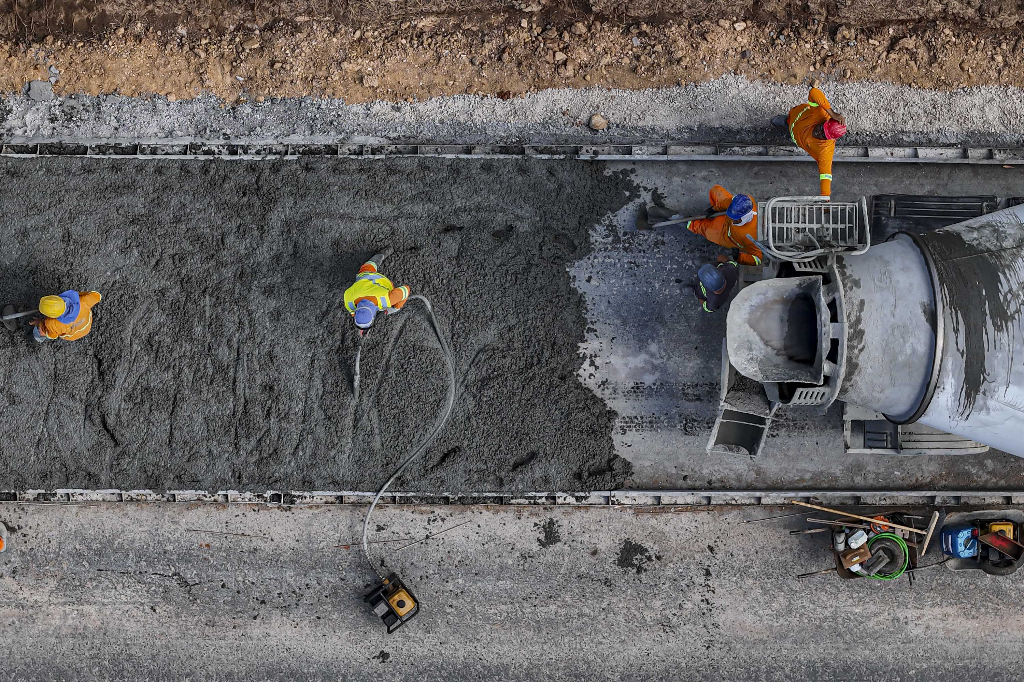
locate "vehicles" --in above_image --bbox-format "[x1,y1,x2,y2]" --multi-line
[710,193,1024,457]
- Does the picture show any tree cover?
No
